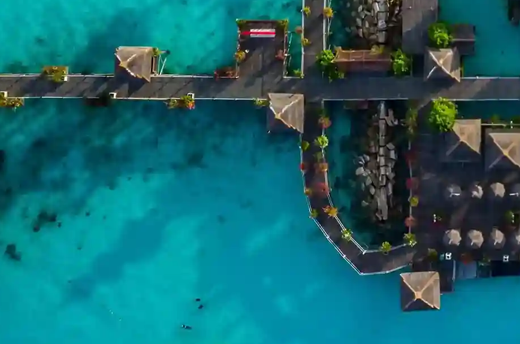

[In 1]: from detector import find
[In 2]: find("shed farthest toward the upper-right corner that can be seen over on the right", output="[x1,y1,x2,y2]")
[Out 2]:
[448,24,475,55]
